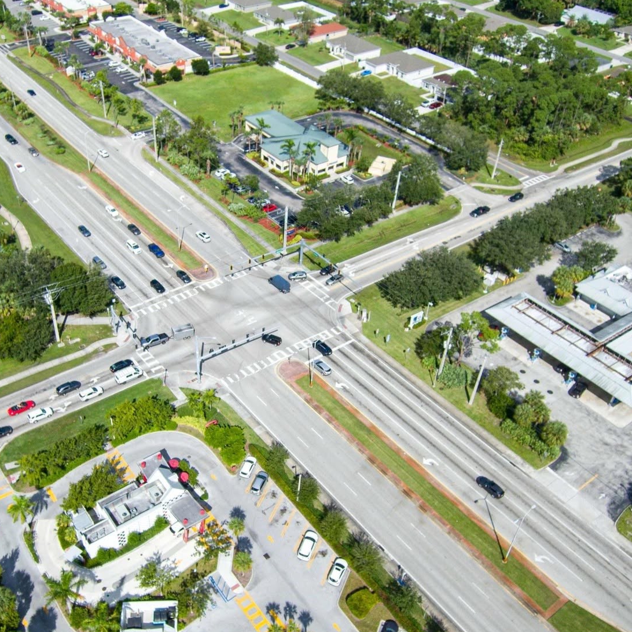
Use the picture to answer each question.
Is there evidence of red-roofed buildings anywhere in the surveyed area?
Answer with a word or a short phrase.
Yes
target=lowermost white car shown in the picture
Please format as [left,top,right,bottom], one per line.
[326,557,350,587]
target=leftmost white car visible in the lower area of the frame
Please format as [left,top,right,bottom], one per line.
[25,407,56,426]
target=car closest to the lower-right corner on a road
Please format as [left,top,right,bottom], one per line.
[477,479,507,505]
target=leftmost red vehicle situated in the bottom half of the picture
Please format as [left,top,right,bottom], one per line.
[7,400,36,418]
